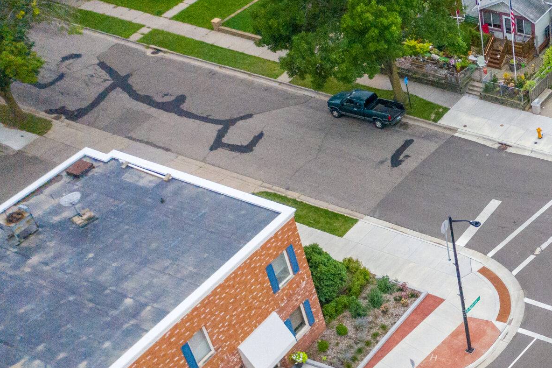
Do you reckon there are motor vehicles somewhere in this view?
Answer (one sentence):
Yes, a motor vehicle is visible in the scene.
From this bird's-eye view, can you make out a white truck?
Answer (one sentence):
No, there isn't any white truck down there.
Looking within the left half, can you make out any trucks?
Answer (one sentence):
No, looking within the left half, there is no truck.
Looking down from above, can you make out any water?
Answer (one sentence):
No, no water is visible.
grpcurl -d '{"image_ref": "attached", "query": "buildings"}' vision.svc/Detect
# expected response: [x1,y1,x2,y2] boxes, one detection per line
[0,147,323,368]
[461,0,552,63]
